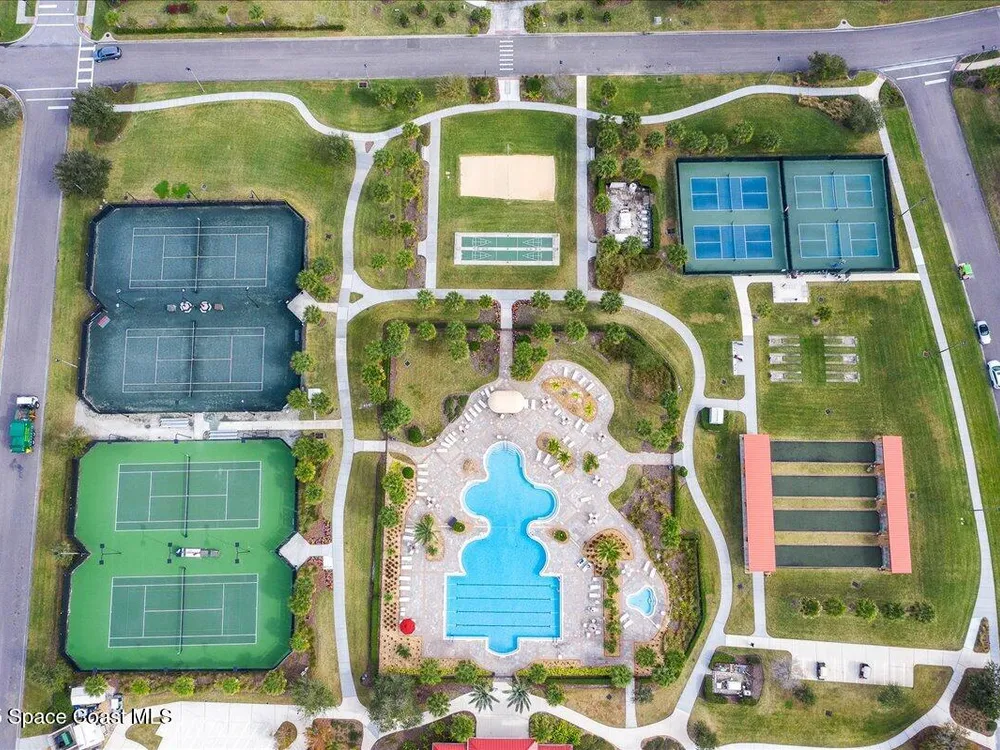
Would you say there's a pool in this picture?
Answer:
Yes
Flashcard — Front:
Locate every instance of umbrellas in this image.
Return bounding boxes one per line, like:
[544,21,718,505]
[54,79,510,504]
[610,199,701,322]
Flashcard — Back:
[399,617,416,635]
[200,302,212,312]
[181,302,192,313]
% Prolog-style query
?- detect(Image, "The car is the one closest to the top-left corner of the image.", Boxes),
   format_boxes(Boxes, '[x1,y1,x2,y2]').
[93,45,119,60]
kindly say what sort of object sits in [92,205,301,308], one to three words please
tennis court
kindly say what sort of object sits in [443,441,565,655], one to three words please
swimming pool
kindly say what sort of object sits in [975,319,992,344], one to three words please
car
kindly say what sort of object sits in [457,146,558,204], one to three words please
sports court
